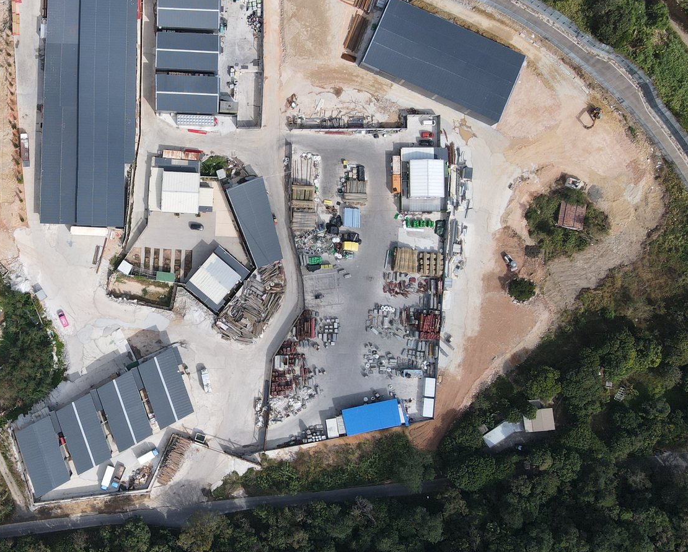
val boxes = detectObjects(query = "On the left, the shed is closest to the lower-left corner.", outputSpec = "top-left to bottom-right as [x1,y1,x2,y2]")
[16,416,73,497]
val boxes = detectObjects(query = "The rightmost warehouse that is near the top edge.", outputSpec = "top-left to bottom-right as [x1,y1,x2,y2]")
[356,0,526,128]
